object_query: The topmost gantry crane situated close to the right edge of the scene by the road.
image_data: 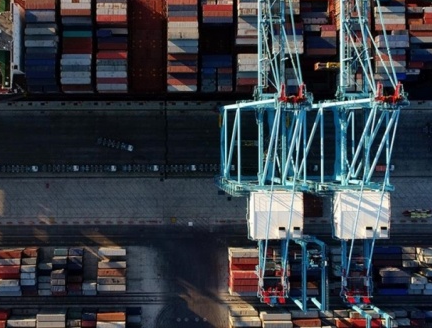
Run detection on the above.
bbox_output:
[285,0,414,303]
